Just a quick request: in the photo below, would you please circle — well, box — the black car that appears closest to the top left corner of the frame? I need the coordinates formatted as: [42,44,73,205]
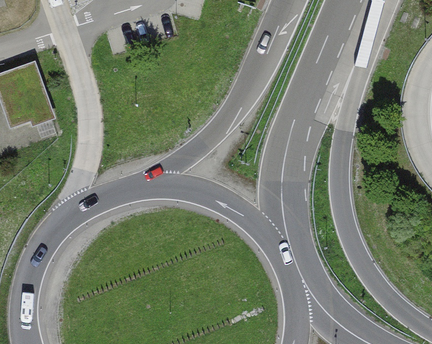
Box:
[120,22,133,44]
